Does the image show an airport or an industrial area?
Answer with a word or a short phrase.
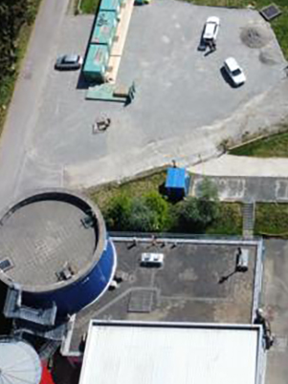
industrial area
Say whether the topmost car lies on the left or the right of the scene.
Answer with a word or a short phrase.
right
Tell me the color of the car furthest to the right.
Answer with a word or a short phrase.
white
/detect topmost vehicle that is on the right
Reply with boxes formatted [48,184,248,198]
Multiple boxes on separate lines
[198,19,219,46]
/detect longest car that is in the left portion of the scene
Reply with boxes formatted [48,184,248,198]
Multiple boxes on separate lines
[53,54,83,71]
